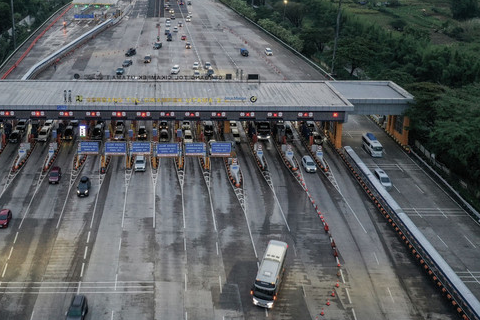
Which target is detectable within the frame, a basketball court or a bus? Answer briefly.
bus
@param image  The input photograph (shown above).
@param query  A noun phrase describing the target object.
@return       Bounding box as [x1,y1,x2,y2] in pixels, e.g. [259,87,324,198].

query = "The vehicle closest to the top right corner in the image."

[363,134,386,156]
